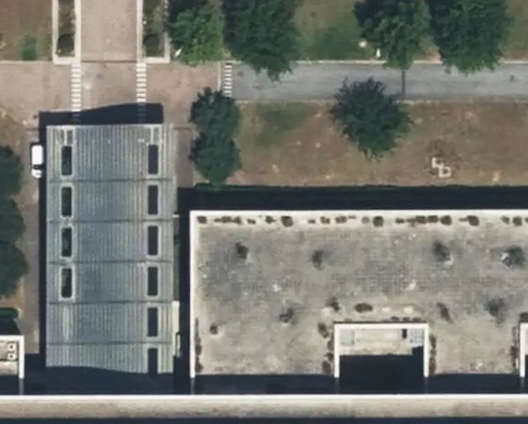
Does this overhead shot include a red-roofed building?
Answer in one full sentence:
No, I can't see a single red-roofed building in this photo.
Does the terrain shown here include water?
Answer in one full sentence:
No, there's no water in this view.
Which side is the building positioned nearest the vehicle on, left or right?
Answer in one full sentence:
The building positioned nearest the vehicle appears in the left half of the scene.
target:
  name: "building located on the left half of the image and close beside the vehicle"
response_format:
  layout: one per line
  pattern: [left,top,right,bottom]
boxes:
[47,125,180,397]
